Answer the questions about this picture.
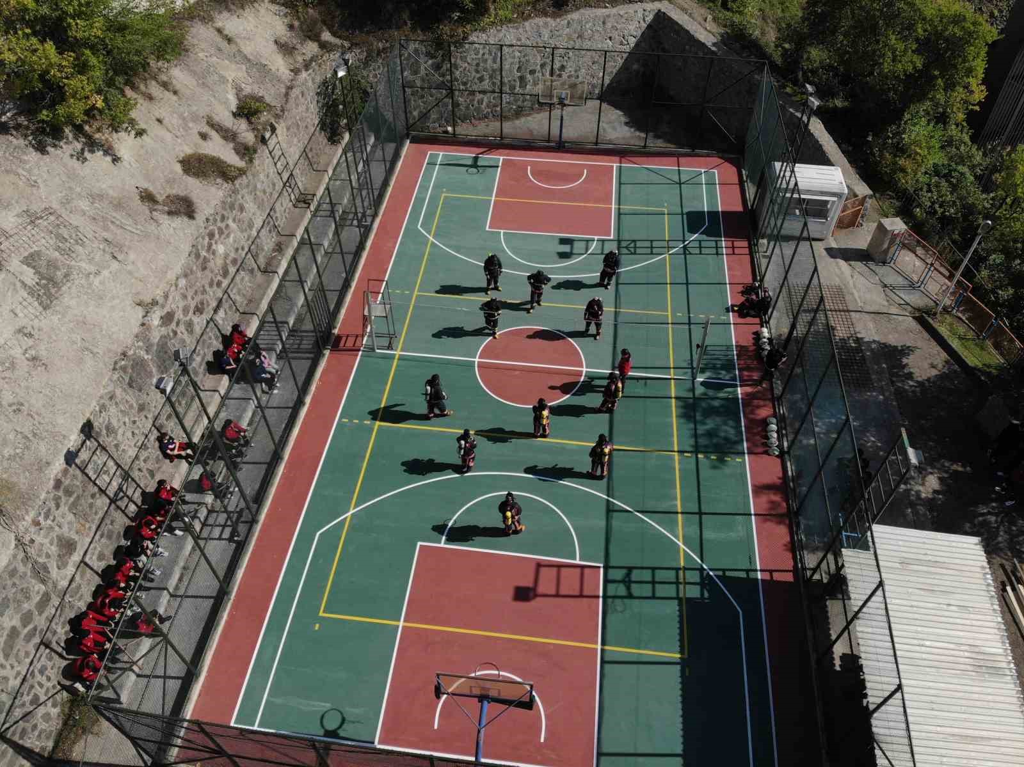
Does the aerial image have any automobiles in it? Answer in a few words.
No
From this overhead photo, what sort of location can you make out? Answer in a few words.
sports ground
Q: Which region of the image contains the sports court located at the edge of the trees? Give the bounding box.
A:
[171,136,832,767]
